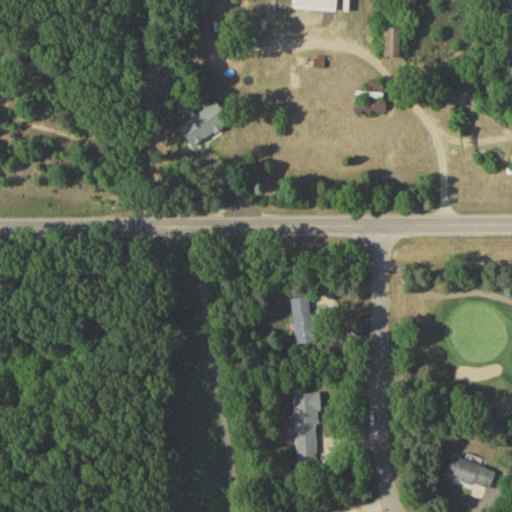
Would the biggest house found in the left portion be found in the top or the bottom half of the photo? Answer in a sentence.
The biggest house found in the left portion sits in the top half of the picture.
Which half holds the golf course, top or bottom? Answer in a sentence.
The golf course sits in the bottom half of the picture.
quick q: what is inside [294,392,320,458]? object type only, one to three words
house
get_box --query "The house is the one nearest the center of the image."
[290,296,316,345]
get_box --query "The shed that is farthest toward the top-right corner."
[384,27,400,57]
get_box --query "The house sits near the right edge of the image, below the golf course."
[450,454,496,499]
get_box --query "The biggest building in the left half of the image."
[182,102,226,150]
